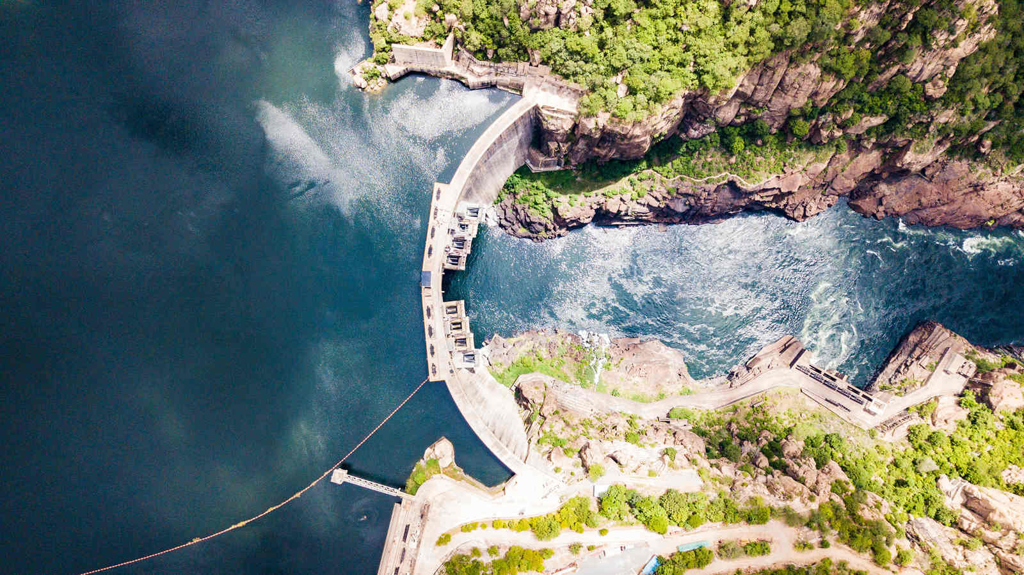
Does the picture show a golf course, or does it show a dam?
dam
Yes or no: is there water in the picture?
Yes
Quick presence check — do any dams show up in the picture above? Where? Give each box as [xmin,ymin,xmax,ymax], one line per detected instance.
[422,97,539,475]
